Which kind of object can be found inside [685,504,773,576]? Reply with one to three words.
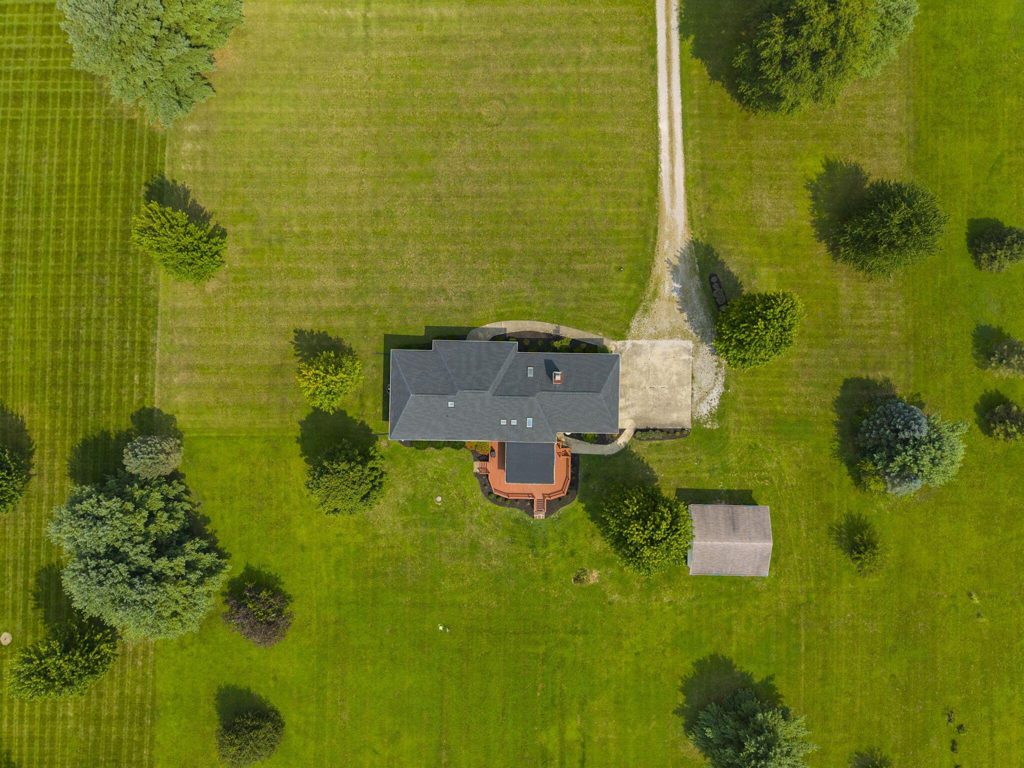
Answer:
shed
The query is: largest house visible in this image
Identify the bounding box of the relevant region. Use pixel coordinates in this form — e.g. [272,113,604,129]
[388,339,621,485]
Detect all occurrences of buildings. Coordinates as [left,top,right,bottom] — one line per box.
[388,339,621,485]
[685,504,773,576]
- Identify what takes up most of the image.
grass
